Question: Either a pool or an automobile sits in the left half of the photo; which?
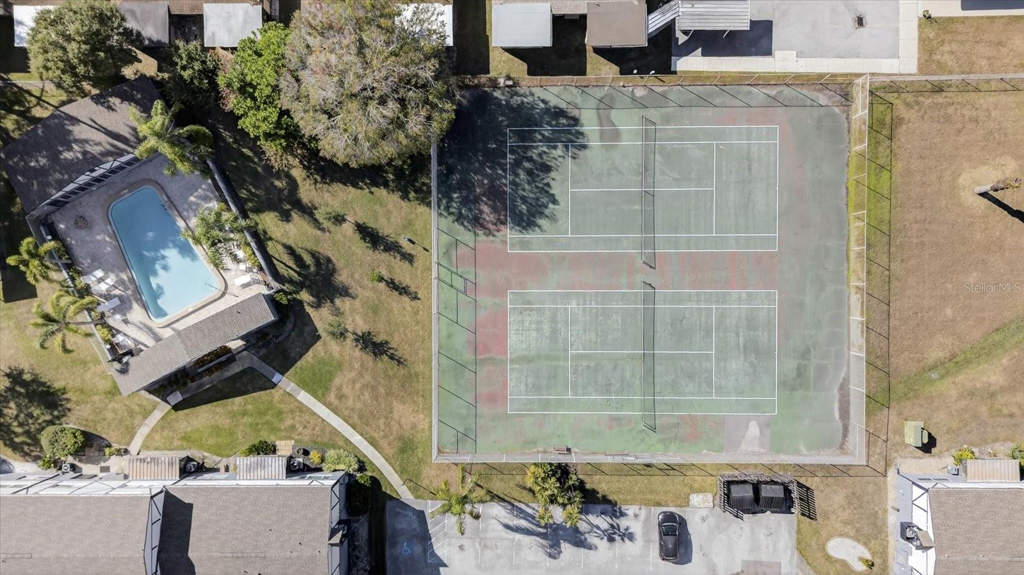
pool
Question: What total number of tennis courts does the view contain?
two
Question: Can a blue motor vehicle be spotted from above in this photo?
No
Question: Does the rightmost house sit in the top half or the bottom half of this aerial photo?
bottom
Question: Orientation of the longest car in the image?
up and down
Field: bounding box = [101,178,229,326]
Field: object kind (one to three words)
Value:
swimming pool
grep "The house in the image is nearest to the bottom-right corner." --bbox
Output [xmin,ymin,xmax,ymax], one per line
[882,471,1024,575]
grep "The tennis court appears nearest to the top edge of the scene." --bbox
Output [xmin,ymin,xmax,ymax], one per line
[508,126,779,251]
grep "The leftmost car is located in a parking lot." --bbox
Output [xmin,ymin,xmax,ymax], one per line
[658,513,683,564]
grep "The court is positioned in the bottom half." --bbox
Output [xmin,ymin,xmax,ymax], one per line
[508,291,779,414]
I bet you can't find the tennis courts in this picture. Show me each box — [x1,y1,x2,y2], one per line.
[508,291,779,414]
[508,126,779,251]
